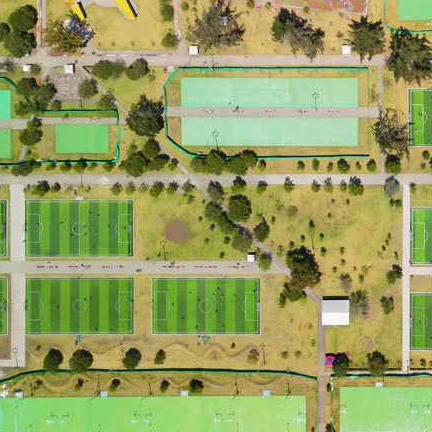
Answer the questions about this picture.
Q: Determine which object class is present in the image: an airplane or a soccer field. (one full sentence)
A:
The image shows a soccer field.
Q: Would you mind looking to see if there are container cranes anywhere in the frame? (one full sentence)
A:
No, there isn't any container crane down there.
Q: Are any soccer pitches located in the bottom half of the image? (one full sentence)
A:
Yes, a soccer pitch is visible in the bottom half of the image.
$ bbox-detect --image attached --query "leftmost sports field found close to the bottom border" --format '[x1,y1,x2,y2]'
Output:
[0,396,306,432]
